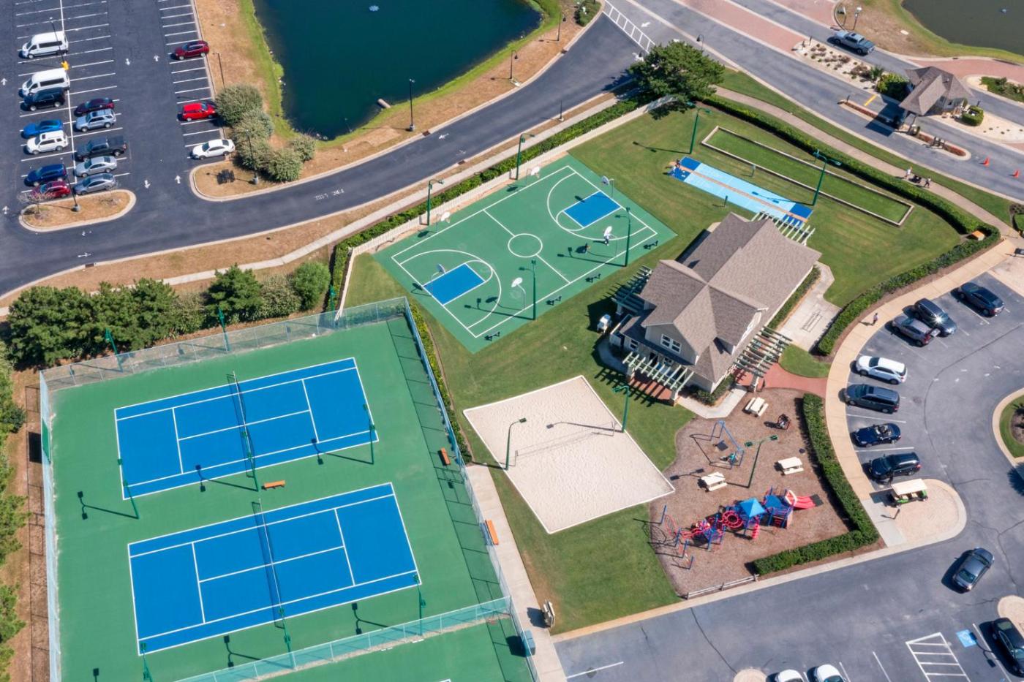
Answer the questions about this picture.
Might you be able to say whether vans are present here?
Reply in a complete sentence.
Yes, the image includes a van.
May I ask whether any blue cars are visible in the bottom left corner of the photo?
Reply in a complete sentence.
No, the scene shows no blue car in the bottom left corner of the photo.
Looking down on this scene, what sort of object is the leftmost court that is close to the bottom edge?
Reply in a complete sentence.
The leftmost court that is close to the bottom edge is a tennis court.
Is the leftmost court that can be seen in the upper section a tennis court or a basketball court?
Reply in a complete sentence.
The leftmost court that can be seen in the upper section can be classified as a basketball court.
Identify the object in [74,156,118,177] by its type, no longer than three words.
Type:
car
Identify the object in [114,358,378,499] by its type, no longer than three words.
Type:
tennis court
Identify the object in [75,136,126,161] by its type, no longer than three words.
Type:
truck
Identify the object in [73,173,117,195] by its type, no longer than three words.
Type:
car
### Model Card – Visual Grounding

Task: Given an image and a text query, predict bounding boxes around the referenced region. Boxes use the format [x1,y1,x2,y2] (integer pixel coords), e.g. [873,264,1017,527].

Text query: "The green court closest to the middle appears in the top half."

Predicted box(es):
[373,153,677,353]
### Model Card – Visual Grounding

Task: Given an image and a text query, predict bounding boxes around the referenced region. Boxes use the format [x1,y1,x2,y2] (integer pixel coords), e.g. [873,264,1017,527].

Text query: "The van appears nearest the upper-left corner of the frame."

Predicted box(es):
[22,29,71,58]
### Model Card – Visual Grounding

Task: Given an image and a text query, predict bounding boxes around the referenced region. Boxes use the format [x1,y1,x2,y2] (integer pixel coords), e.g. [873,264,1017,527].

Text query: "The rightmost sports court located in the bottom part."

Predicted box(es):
[462,374,676,534]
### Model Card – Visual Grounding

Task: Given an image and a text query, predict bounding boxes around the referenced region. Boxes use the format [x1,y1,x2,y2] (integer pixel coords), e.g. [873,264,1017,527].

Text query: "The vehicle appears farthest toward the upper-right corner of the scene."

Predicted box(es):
[832,30,876,54]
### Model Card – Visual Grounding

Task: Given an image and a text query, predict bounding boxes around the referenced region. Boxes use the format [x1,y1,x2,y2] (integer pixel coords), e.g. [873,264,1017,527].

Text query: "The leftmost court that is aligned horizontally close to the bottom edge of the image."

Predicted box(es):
[128,483,420,655]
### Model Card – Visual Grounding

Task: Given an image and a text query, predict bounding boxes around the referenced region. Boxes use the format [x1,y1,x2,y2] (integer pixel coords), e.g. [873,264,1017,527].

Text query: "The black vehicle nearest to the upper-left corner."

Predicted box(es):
[24,88,65,110]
